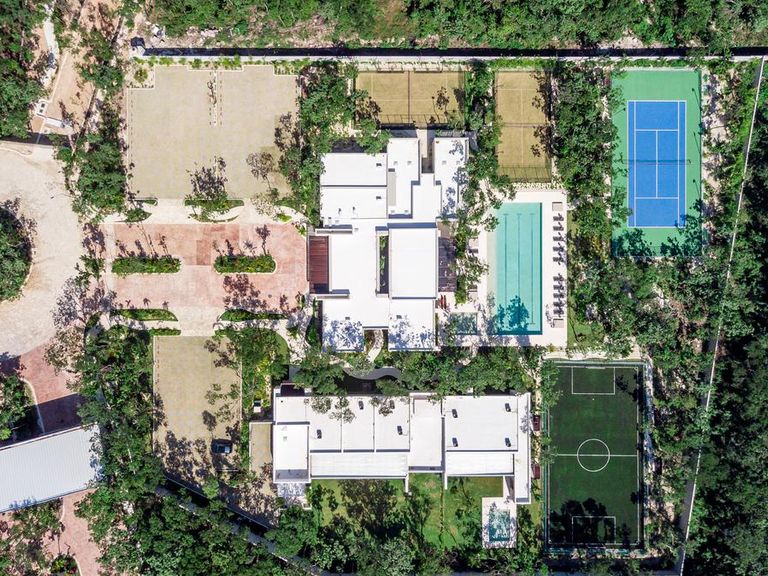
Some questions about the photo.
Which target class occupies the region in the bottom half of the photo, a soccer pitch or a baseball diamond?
soccer pitch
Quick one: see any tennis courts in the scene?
Yes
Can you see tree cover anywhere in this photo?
Yes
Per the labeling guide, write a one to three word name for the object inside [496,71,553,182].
sports court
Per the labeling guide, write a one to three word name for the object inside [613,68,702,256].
tennis court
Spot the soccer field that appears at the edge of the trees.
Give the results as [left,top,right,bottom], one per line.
[545,360,642,547]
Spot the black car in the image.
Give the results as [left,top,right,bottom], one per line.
[209,444,232,456]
